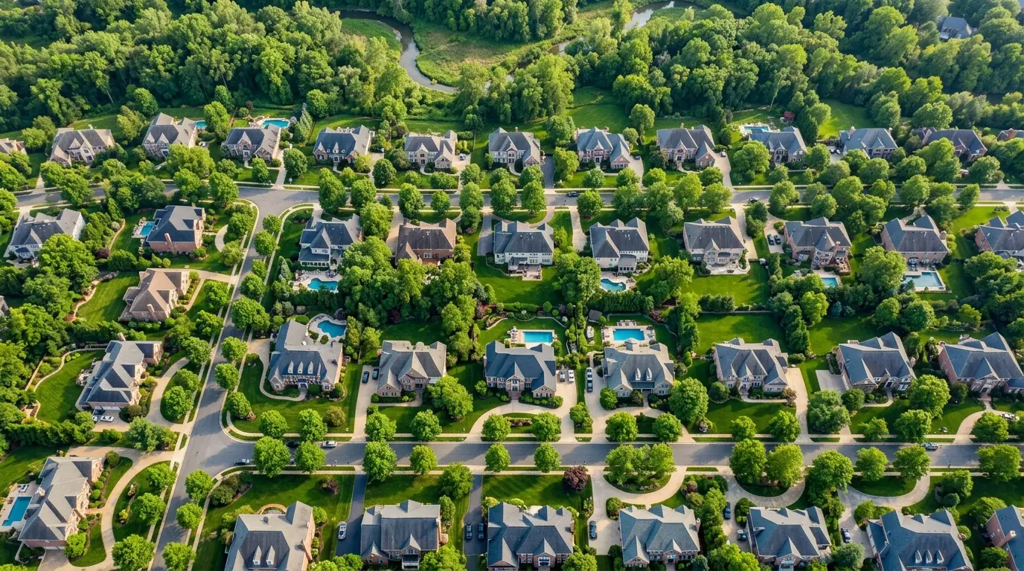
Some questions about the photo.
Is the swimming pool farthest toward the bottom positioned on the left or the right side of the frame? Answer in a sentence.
The swimming pool farthest toward the bottom sits on the left side.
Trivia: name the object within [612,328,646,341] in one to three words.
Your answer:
swimming pool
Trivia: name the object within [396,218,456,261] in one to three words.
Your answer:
house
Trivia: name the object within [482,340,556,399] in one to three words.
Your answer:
house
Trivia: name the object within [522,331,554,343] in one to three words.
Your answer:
swimming pool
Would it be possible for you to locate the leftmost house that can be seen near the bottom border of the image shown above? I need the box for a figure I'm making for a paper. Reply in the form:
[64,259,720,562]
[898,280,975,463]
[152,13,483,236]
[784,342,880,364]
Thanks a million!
[18,453,107,548]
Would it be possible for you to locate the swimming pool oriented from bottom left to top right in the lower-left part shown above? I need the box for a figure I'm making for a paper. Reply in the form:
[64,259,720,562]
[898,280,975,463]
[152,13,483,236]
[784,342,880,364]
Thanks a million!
[0,495,34,527]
